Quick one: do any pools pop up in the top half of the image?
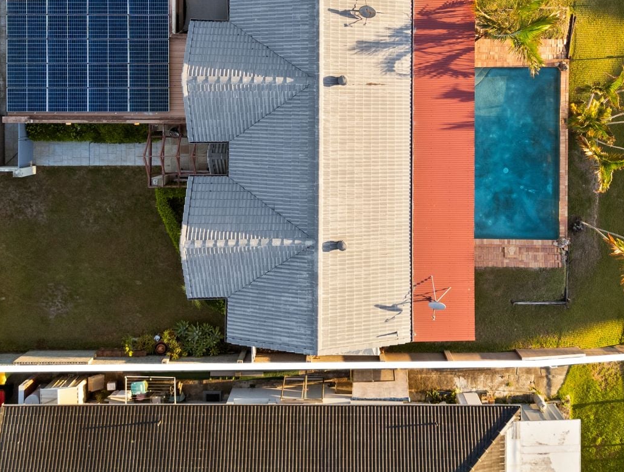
Yes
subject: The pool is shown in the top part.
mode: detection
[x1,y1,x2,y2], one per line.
[475,40,569,267]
